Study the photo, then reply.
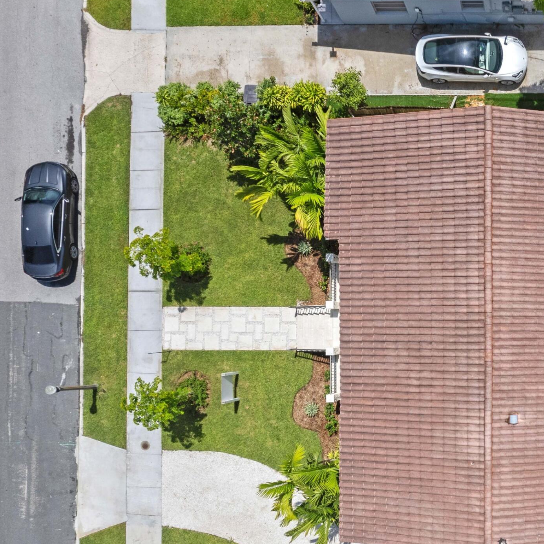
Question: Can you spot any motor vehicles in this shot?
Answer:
Yes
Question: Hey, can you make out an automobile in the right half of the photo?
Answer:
Yes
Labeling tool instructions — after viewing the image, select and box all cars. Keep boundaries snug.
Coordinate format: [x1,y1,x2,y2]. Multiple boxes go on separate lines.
[17,160,81,281]
[411,28,531,84]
